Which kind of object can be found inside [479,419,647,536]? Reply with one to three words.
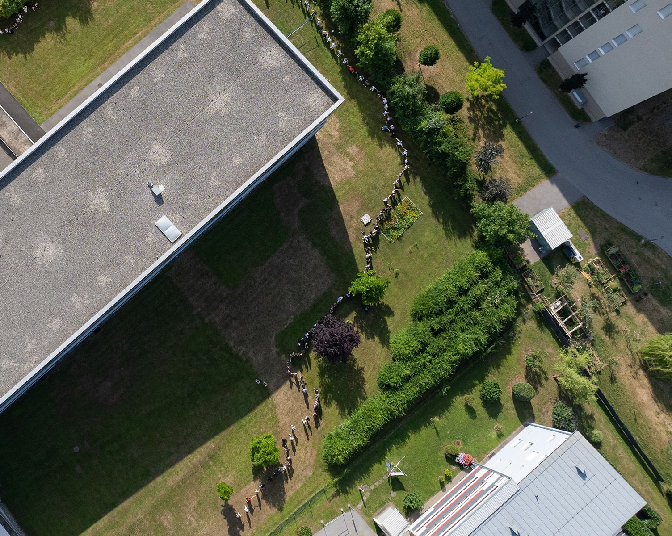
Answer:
house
